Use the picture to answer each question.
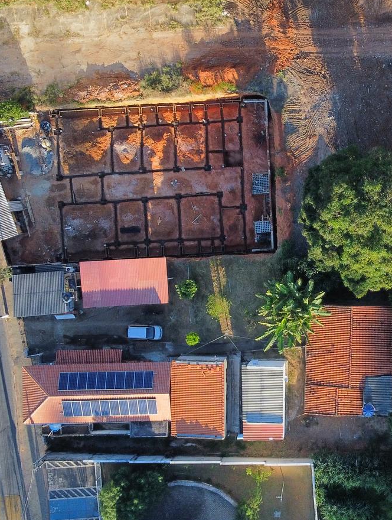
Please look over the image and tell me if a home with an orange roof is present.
Yes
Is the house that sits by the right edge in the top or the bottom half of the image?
bottom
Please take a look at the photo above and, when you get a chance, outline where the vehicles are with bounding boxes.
[128,324,164,343]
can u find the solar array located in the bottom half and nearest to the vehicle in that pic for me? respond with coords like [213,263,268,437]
[59,371,156,391]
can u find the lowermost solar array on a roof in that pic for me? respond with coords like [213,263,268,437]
[63,399,161,416]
